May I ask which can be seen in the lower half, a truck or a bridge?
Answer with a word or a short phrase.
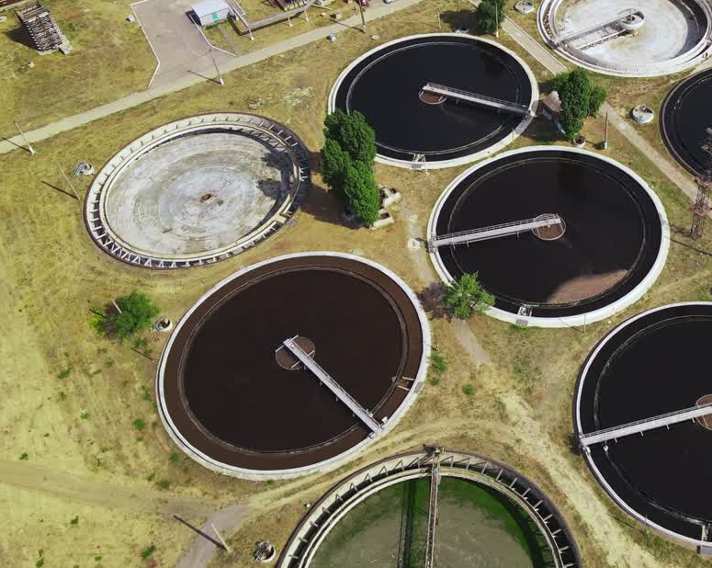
bridge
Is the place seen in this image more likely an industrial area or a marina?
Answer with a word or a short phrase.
industrial area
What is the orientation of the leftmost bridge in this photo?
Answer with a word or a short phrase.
at an angle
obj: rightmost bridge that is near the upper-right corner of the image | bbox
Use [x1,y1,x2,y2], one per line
[555,7,639,53]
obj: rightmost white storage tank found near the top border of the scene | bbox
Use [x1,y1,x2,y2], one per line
[537,0,712,81]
